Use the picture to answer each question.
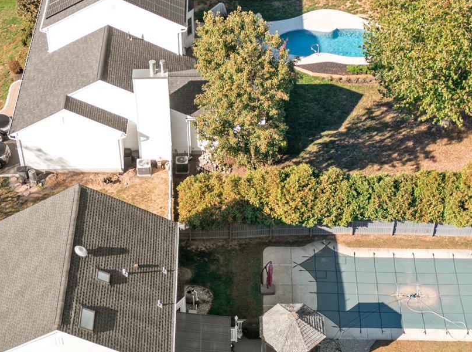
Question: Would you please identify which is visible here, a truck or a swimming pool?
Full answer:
Looking from above, you can make out a swimming pool.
